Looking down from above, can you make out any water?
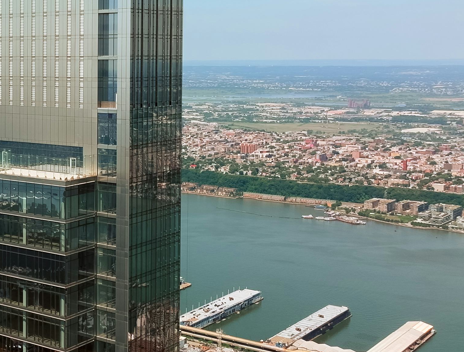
Yes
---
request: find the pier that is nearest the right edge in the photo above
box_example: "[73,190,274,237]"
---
[369,322,441,352]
